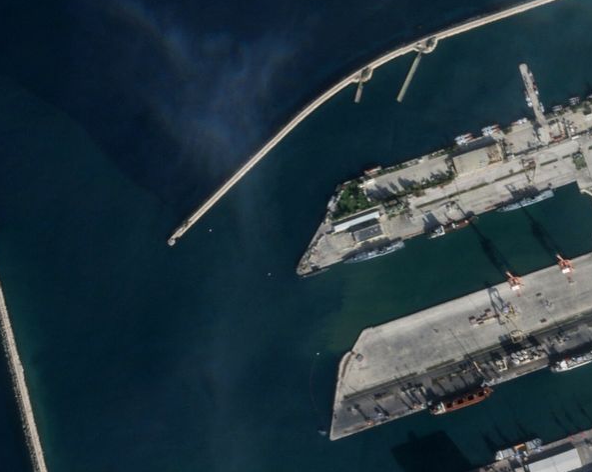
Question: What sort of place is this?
port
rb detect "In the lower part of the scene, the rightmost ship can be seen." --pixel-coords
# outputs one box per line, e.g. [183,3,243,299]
[550,350,592,371]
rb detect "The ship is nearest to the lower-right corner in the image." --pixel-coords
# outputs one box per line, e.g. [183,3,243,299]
[496,440,542,459]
